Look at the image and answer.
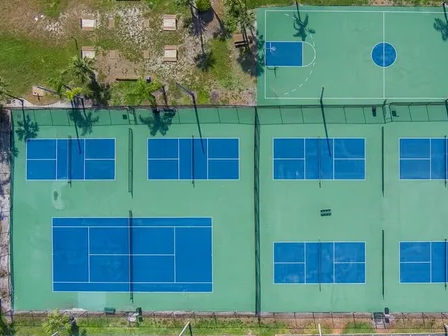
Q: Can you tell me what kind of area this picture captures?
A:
sports ground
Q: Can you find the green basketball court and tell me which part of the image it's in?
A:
top right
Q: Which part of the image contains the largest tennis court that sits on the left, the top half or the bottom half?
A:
bottom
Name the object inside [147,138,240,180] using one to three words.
sports court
